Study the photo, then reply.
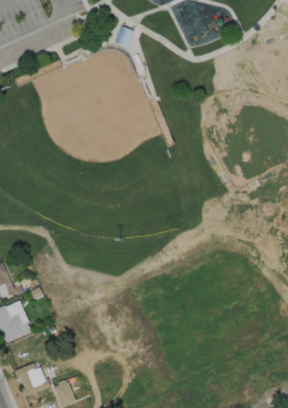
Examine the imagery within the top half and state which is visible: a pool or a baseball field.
baseball field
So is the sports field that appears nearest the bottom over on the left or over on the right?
right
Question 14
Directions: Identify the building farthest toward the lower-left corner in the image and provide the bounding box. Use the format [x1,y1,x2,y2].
[16,363,52,398]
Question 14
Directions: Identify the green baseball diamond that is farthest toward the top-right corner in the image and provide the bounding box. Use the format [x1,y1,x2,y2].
[222,106,288,188]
